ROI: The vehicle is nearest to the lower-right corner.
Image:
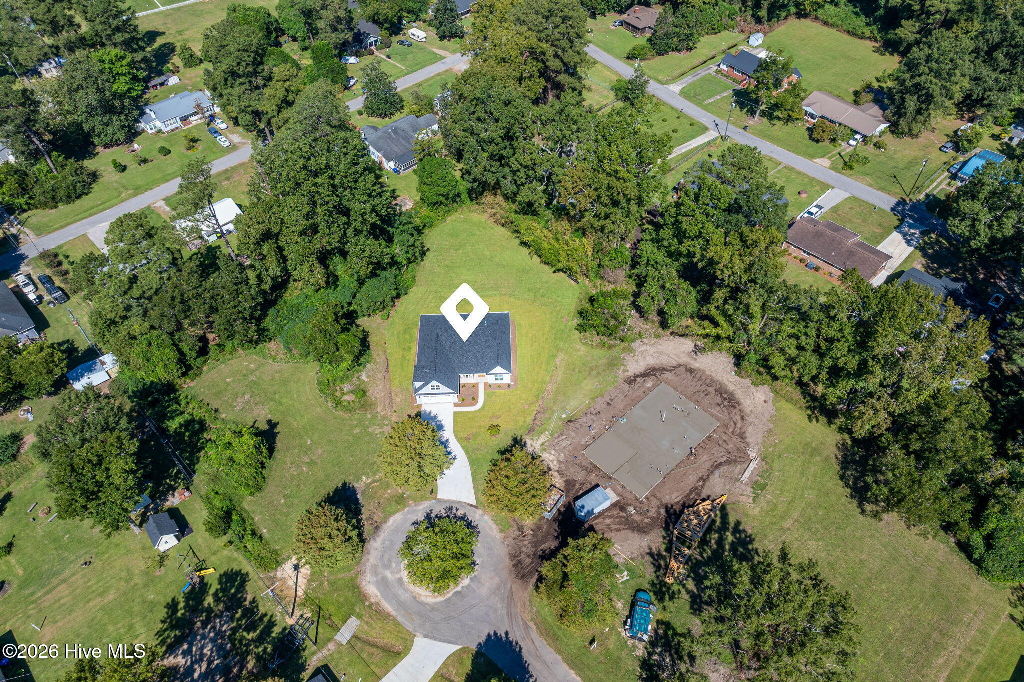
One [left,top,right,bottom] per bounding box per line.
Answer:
[627,591,656,646]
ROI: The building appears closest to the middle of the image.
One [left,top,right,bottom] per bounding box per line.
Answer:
[409,312,513,404]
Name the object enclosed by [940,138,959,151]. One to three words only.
vehicle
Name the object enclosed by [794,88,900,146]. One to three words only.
house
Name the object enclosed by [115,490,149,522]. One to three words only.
shed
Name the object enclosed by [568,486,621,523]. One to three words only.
trailer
